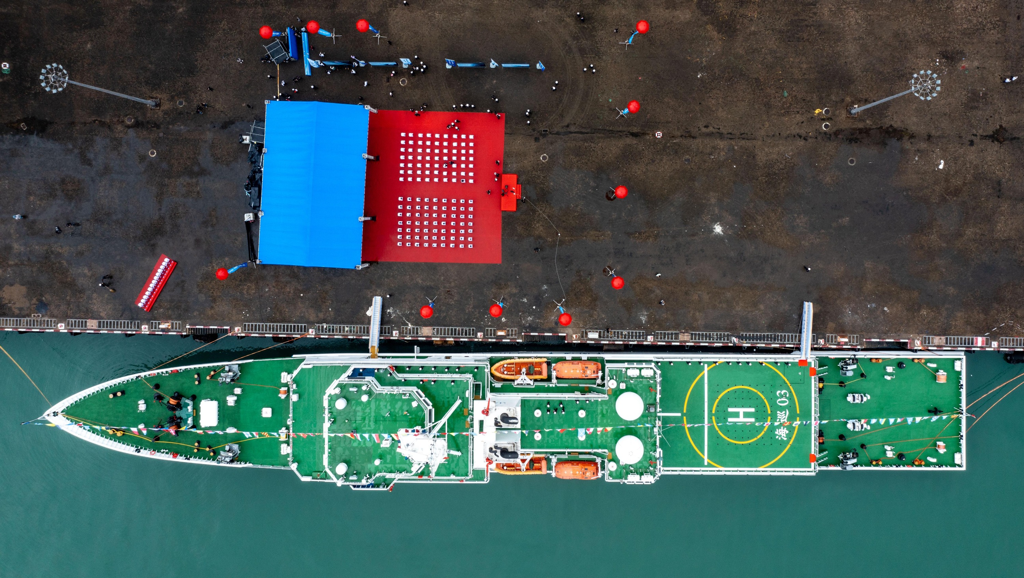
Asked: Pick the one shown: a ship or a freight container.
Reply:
ship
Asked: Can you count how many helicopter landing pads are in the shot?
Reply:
1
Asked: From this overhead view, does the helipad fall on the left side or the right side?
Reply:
right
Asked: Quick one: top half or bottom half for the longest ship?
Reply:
bottom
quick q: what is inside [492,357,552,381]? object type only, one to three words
boat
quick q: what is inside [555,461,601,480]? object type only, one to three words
boat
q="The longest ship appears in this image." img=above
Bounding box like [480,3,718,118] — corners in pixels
[21,346,976,491]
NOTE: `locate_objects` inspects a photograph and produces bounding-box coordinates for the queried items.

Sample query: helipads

[649,356,819,476]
